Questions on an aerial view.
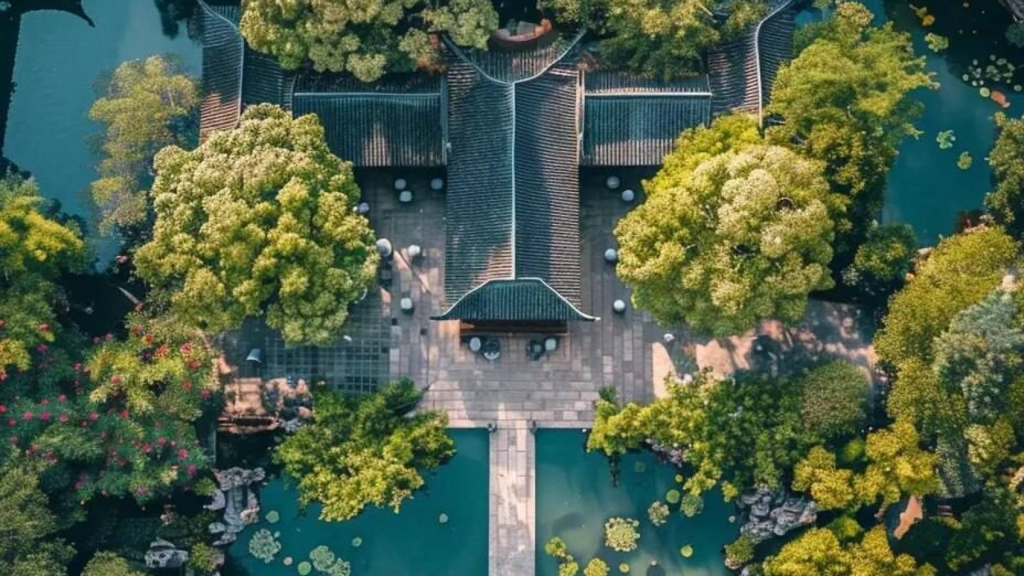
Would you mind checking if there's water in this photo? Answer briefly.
Yes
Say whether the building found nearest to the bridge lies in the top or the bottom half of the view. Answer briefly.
top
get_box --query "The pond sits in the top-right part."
[794,0,1024,249]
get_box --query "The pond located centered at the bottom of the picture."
[219,416,739,576]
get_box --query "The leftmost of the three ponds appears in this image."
[1,0,201,282]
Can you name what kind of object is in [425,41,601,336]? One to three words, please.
building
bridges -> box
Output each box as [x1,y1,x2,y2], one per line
[489,428,535,576]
